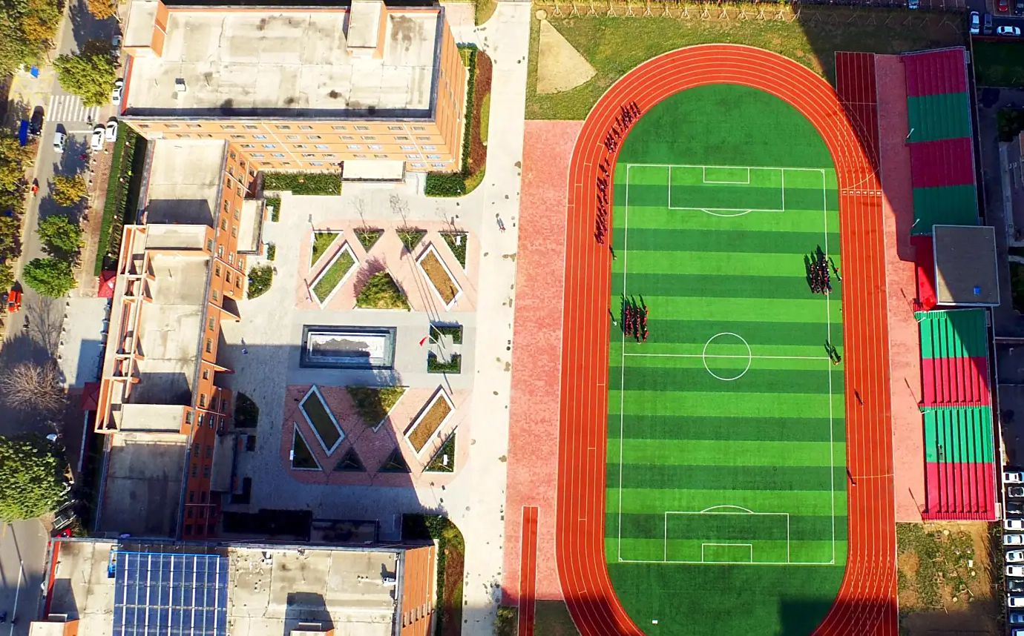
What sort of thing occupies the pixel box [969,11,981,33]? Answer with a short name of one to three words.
vehicle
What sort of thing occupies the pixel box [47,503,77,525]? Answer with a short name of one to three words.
truck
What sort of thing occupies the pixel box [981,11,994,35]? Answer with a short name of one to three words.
vehicle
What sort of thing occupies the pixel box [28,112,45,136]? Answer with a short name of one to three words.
car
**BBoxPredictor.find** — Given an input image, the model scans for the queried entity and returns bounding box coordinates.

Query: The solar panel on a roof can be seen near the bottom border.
[109,548,235,636]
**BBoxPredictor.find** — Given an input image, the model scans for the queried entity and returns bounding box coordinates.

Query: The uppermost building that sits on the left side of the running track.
[117,0,468,196]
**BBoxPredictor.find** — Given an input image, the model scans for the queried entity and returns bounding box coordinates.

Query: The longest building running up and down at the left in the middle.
[92,138,279,541]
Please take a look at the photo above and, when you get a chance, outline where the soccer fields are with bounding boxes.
[606,85,848,636]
